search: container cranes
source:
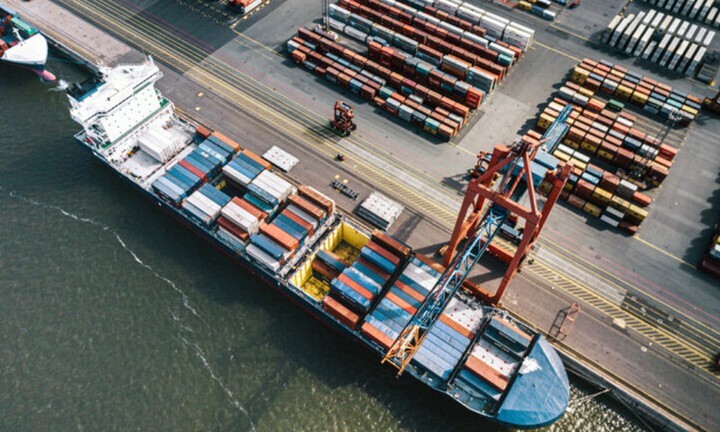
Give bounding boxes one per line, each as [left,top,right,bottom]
[382,102,576,372]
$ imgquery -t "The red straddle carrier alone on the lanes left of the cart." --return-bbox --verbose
[330,100,355,134]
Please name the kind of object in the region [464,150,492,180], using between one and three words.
work vehicle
